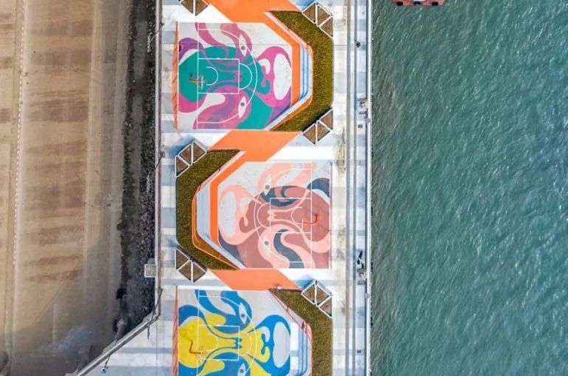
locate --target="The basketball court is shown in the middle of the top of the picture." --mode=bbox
[177,21,292,130]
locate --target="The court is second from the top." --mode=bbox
[218,160,330,269]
